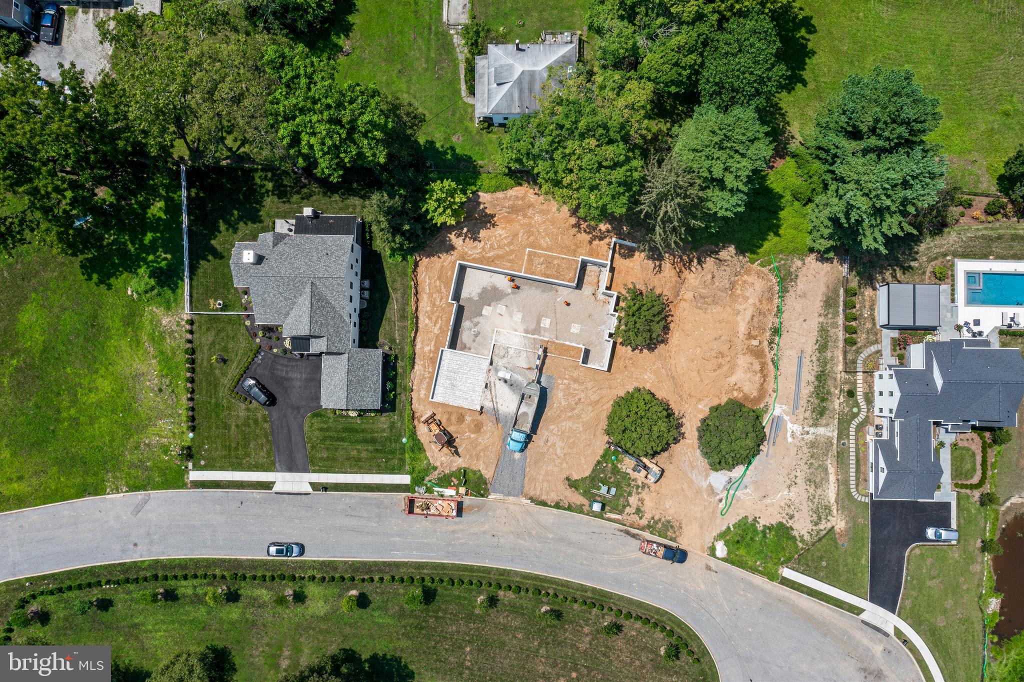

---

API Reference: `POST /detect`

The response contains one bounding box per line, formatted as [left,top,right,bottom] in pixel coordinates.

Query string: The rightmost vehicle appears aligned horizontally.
[922,525,963,544]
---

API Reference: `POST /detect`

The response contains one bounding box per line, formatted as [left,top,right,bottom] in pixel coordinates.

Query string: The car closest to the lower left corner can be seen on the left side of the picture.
[268,541,305,559]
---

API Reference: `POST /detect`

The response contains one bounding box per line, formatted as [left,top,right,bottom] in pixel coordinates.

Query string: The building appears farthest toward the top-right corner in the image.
[879,283,941,327]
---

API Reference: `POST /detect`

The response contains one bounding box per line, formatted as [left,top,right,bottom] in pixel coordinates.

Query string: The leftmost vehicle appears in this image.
[41,3,64,47]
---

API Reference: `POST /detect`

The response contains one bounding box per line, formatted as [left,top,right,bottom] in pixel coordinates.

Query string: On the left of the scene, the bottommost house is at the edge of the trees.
[229,208,384,410]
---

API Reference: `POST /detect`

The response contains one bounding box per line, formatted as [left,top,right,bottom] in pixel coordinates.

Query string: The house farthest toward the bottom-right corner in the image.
[868,338,1024,500]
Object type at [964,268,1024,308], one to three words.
swimming pool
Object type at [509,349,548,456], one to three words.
truck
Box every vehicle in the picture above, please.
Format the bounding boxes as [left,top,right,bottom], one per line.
[268,541,305,559]
[509,349,548,456]
[922,525,963,544]
[419,407,454,456]
[241,376,276,408]
[610,441,666,484]
[41,3,64,47]
[642,539,687,564]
